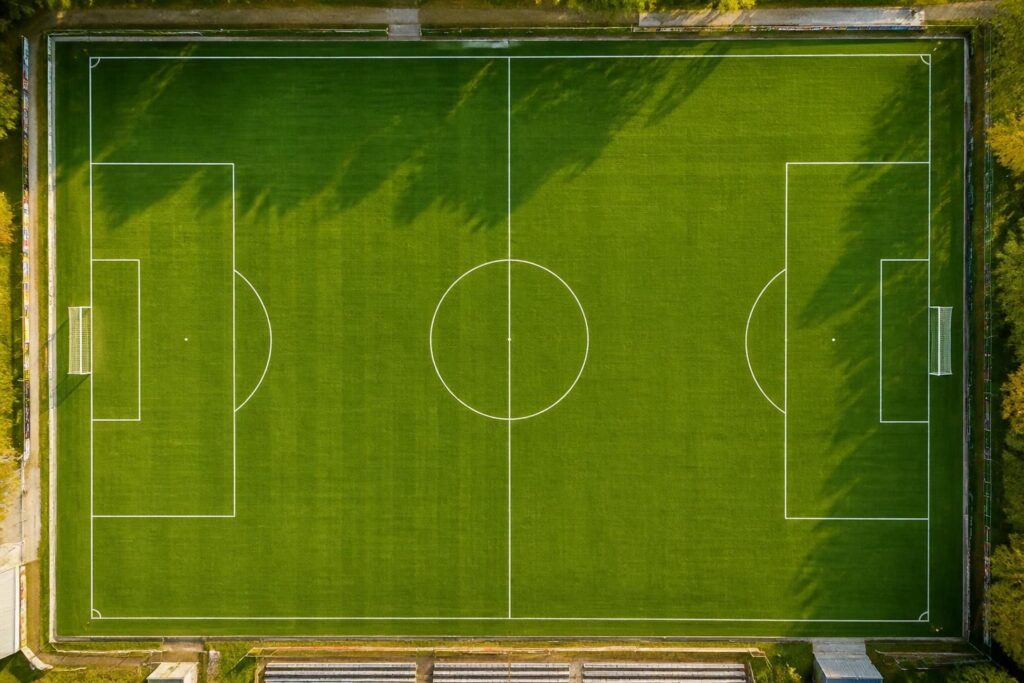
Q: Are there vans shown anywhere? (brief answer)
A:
No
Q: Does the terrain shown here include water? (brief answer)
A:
No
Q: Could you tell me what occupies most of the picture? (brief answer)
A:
grass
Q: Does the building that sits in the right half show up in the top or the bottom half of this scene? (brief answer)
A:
bottom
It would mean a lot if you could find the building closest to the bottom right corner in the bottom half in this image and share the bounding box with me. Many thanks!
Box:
[814,653,885,683]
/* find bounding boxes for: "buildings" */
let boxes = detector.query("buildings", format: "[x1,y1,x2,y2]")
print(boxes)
[814,653,885,683]
[0,565,21,659]
[146,662,197,683]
